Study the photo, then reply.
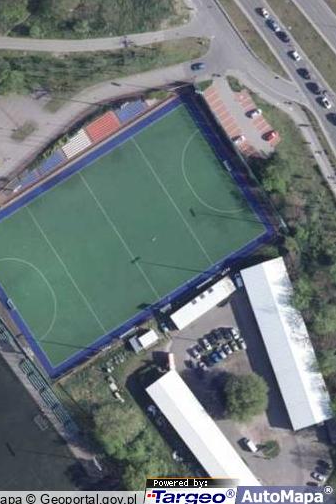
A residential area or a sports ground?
sports ground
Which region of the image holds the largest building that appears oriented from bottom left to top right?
center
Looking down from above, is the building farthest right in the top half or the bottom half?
bottom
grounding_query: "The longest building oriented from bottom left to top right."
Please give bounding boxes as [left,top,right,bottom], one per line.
[170,277,237,330]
